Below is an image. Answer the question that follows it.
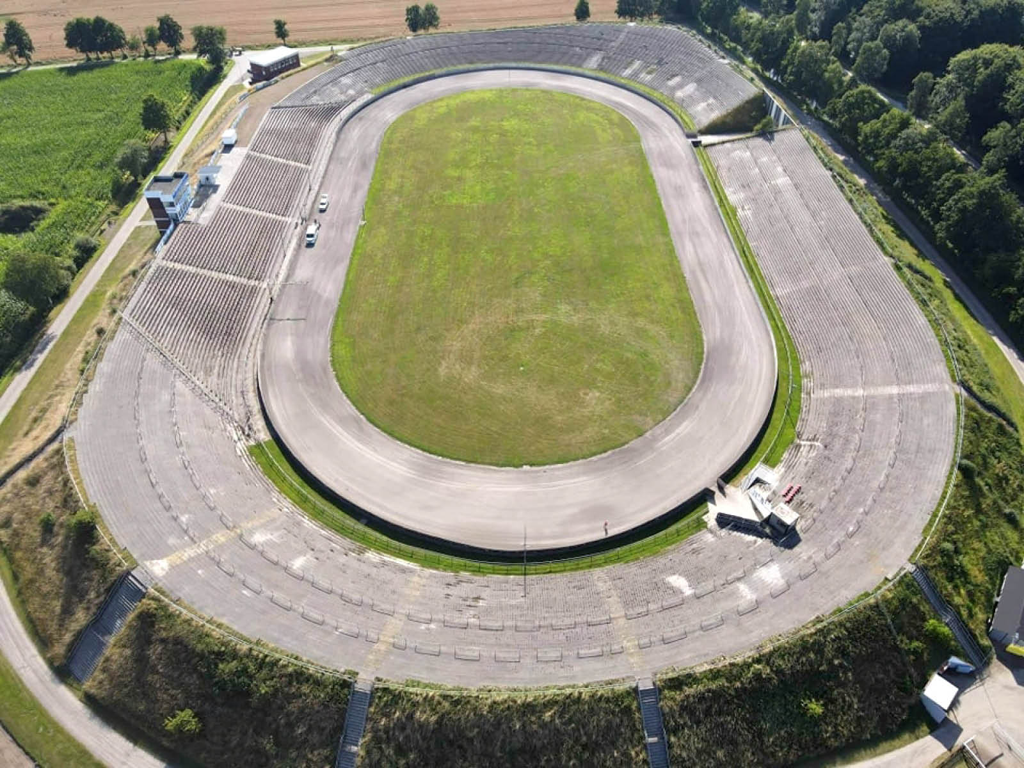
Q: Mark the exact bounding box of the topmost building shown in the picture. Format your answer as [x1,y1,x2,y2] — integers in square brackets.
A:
[243,48,301,81]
